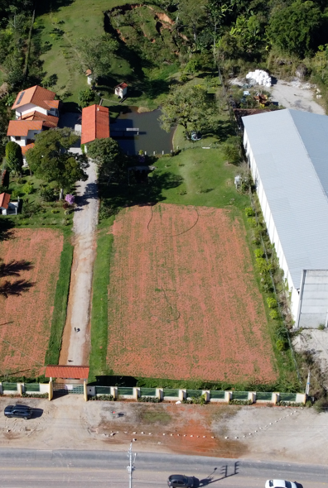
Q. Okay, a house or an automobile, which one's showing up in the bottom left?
automobile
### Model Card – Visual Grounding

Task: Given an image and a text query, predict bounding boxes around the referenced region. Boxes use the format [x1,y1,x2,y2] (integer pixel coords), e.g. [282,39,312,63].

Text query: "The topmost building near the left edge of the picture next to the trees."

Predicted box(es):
[3,87,65,164]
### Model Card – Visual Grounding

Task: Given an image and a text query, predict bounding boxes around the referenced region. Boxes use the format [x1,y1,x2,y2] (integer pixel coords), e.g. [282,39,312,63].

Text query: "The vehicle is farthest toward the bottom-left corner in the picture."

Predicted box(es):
[4,403,33,420]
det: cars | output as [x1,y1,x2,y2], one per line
[265,478,299,488]
[4,403,33,420]
[167,471,196,488]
